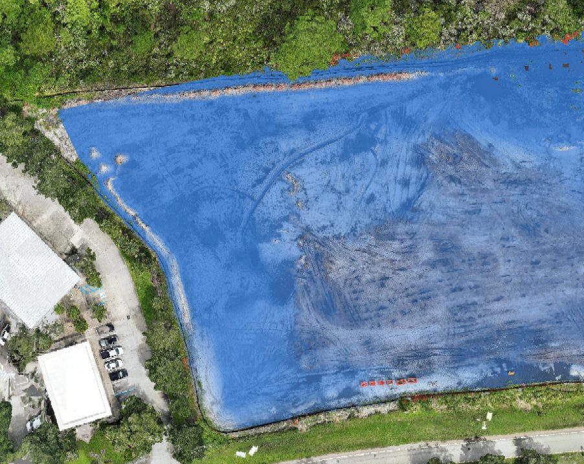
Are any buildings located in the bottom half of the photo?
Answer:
Yes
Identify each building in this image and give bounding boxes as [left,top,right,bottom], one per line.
[38,341,113,431]
[0,211,80,328]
